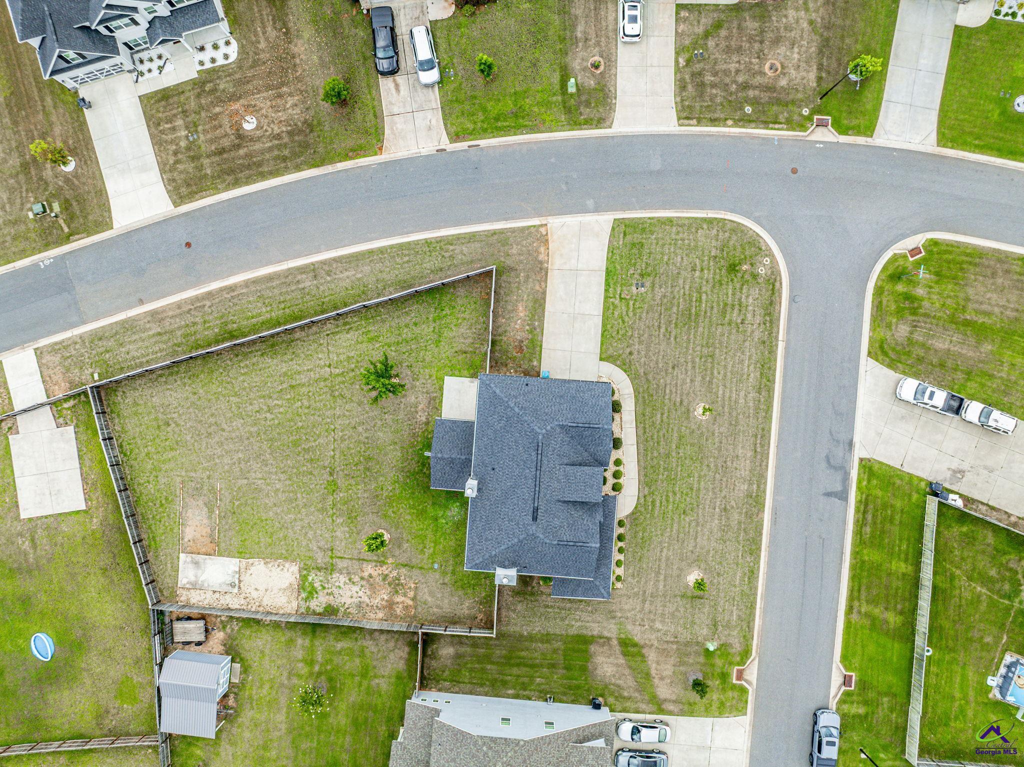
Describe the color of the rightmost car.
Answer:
white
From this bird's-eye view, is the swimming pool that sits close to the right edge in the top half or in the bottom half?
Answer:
bottom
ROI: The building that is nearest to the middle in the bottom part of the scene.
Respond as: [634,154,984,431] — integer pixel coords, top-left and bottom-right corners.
[424,372,619,601]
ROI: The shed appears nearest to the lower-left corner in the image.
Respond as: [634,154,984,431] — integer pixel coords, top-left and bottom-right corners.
[154,650,232,739]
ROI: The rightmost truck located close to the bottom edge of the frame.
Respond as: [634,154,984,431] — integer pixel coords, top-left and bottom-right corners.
[809,707,841,767]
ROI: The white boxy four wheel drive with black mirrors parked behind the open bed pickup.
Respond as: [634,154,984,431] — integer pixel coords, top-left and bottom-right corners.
[962,400,1021,437]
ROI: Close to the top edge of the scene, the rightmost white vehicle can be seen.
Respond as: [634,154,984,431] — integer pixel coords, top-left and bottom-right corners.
[621,0,648,43]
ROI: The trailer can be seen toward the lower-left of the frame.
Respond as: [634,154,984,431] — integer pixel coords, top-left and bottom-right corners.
[159,615,217,646]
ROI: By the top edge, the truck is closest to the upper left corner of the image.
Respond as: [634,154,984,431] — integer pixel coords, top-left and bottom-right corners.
[370,7,400,77]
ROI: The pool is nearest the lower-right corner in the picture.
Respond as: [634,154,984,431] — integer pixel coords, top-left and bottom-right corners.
[982,645,1024,712]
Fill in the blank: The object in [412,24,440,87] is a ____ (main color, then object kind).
white car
